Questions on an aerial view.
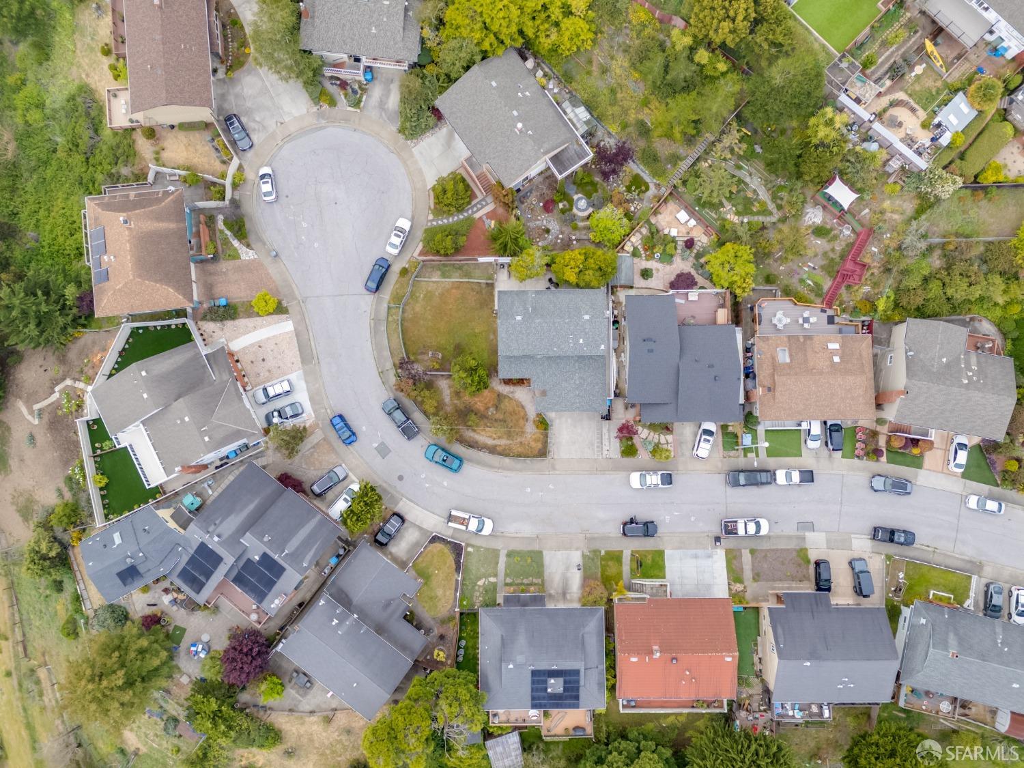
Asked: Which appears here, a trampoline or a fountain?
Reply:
fountain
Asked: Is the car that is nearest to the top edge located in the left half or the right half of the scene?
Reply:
left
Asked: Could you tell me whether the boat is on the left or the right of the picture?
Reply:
right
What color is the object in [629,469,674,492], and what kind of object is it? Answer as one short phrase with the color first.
white truck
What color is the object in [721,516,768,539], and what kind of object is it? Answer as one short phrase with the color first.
white truck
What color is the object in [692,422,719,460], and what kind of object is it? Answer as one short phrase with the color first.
white car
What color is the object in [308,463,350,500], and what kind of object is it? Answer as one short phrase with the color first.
gray car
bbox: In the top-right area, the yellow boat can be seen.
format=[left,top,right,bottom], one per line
[924,39,946,72]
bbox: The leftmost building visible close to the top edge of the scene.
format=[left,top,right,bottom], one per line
[101,0,228,135]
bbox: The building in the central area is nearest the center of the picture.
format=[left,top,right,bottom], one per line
[498,288,608,413]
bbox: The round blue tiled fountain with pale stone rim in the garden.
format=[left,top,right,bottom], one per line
[569,190,594,216]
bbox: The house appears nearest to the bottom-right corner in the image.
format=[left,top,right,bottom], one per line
[892,599,1024,739]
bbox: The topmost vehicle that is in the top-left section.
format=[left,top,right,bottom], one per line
[221,108,255,154]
